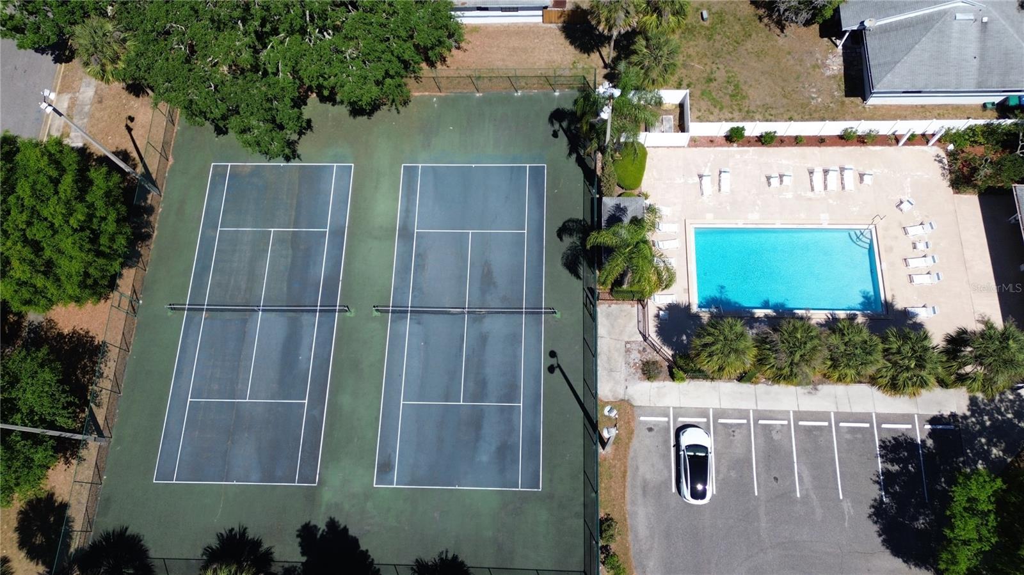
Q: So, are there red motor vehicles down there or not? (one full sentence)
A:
No, I find no red motor vehicle anywhere in the image.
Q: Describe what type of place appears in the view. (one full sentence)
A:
The picture captures a sports ground.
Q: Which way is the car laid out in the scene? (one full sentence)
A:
The car runs from top to bottom in the image.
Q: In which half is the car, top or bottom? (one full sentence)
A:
The car is in the bottom half of the image.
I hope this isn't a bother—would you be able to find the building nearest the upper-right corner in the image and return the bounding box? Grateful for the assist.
[837,0,1024,104]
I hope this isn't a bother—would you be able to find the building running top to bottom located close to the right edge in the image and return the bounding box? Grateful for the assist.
[994,183,1024,253]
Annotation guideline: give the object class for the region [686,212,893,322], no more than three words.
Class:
swimming pool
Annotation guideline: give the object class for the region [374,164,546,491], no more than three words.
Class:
tennis court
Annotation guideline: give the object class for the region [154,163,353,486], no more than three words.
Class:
tennis court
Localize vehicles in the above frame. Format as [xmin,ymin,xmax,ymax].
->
[678,428,714,504]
